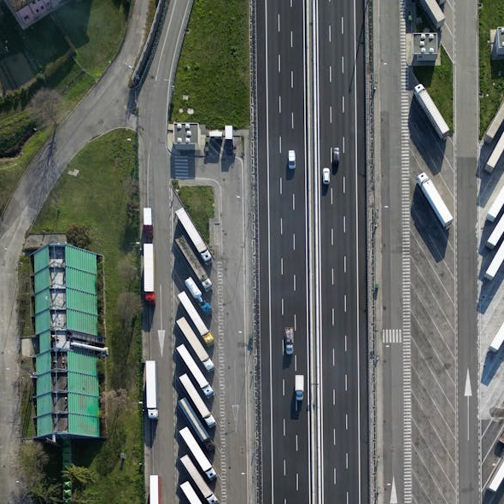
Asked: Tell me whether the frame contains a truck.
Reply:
Yes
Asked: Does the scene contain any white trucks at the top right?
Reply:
Yes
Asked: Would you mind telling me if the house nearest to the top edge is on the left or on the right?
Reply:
left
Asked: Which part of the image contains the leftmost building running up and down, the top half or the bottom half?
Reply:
bottom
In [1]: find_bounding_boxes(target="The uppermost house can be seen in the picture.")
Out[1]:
[5,0,75,33]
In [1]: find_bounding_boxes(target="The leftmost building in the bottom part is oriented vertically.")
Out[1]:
[33,243,106,440]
